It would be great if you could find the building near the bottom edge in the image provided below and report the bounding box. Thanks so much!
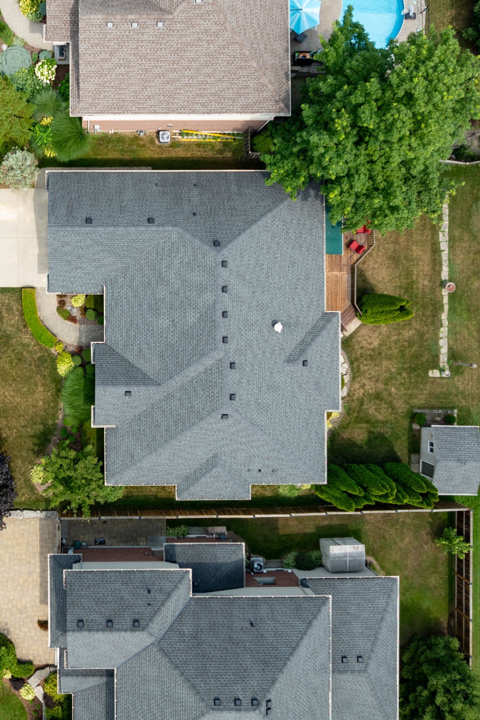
[46,533,401,720]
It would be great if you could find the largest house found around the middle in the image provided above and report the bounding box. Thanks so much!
[45,170,343,502]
